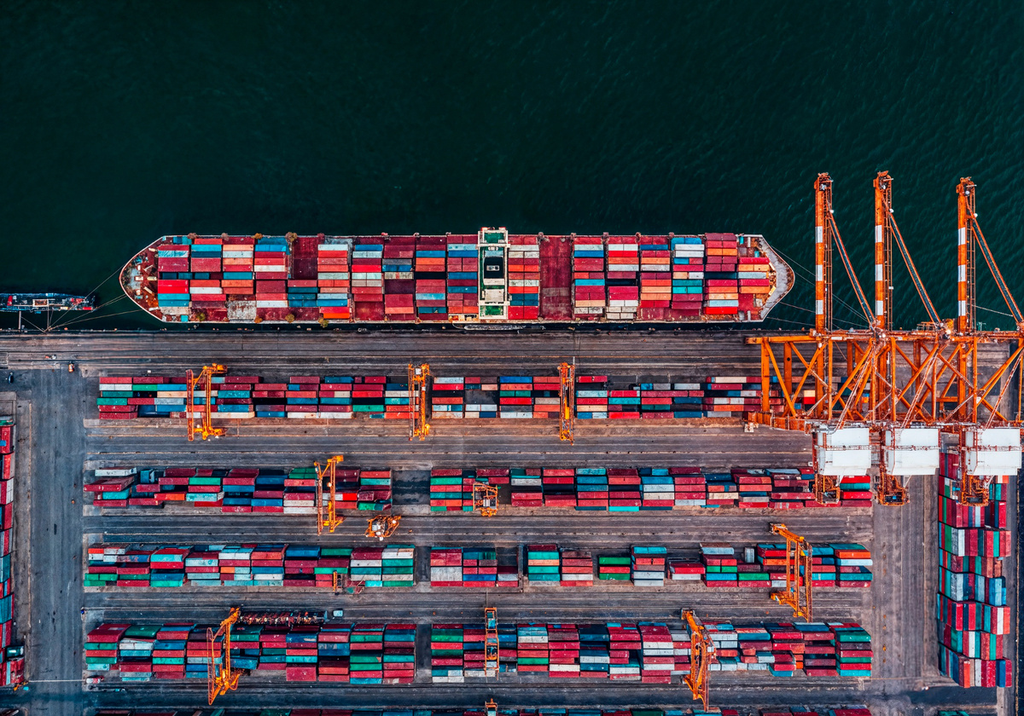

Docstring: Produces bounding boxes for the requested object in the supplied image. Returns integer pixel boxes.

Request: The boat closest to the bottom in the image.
[0,293,98,330]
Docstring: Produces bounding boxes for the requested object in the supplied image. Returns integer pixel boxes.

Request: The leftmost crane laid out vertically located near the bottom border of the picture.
[204,611,253,707]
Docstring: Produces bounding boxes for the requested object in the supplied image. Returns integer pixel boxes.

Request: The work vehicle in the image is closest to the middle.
[473,476,500,514]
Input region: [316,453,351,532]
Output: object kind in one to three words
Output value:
crane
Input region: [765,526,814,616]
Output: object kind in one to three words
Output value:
crane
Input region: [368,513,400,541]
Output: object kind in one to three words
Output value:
work vehicle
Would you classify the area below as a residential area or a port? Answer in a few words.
port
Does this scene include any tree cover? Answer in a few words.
No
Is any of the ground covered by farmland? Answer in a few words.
No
